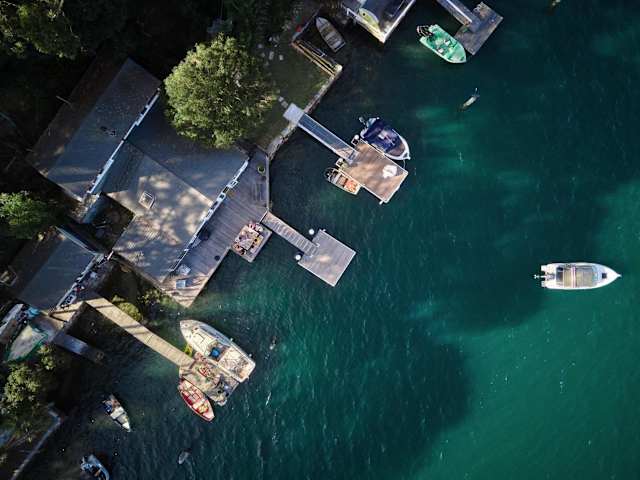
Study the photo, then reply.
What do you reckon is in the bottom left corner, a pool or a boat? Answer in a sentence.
You can see a boat in the bottom left corner.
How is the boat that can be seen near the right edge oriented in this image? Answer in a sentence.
In this picture, the boat that can be seen near the right edge is oriented from left to right.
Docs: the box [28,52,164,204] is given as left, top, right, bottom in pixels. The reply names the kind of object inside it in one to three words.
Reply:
house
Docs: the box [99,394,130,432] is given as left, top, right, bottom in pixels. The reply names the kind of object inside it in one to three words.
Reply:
boat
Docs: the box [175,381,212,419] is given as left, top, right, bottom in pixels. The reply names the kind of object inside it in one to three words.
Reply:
boat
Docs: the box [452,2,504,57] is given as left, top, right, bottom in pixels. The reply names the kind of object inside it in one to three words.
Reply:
pier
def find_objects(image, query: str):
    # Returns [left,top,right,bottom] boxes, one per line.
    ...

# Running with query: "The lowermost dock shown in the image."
[178,353,241,405]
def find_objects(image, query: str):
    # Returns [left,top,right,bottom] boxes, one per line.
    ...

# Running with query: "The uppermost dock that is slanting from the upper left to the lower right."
[435,0,481,32]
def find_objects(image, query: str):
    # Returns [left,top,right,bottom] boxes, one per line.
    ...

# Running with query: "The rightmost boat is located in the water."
[529,262,625,290]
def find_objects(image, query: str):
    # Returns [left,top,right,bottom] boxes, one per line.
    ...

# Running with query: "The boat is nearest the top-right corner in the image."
[414,23,469,64]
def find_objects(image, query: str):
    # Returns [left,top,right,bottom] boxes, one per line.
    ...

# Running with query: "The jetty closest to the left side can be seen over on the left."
[76,293,194,367]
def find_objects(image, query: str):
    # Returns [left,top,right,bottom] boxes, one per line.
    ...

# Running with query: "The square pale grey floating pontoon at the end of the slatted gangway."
[298,229,357,288]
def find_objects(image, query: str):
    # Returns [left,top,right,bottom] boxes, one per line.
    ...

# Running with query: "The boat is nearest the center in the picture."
[322,166,359,194]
